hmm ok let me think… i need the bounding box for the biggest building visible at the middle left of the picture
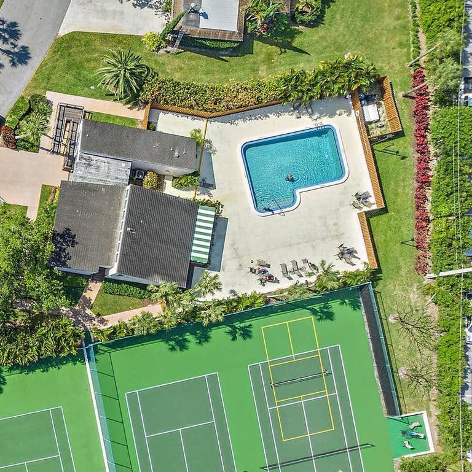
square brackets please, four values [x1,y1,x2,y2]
[51,119,199,288]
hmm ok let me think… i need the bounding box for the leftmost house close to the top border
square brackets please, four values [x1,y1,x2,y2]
[170,0,246,43]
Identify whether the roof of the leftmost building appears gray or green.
gray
